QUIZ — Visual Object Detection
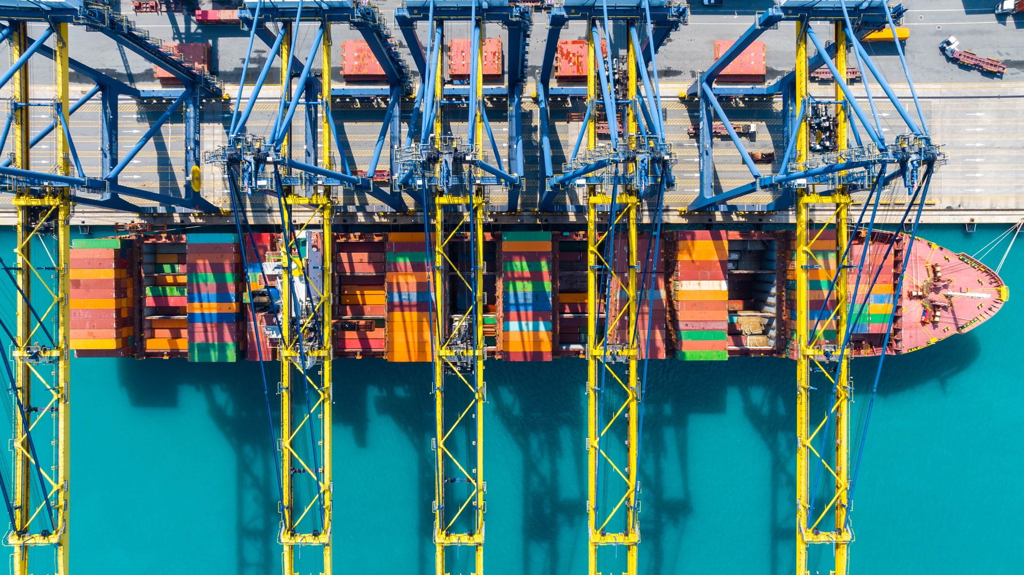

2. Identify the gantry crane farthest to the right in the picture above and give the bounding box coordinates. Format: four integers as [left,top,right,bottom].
[678,0,945,575]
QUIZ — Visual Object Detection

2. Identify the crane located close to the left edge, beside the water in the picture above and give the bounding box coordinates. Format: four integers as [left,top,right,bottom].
[0,0,231,575]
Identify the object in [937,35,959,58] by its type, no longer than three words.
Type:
truck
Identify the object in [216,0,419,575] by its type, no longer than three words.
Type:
container crane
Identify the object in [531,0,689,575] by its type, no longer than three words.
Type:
container crane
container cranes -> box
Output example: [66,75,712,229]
[216,0,419,575]
[531,0,689,575]
[383,0,530,575]
[678,0,945,575]
[0,0,231,575]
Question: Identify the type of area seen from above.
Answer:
port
